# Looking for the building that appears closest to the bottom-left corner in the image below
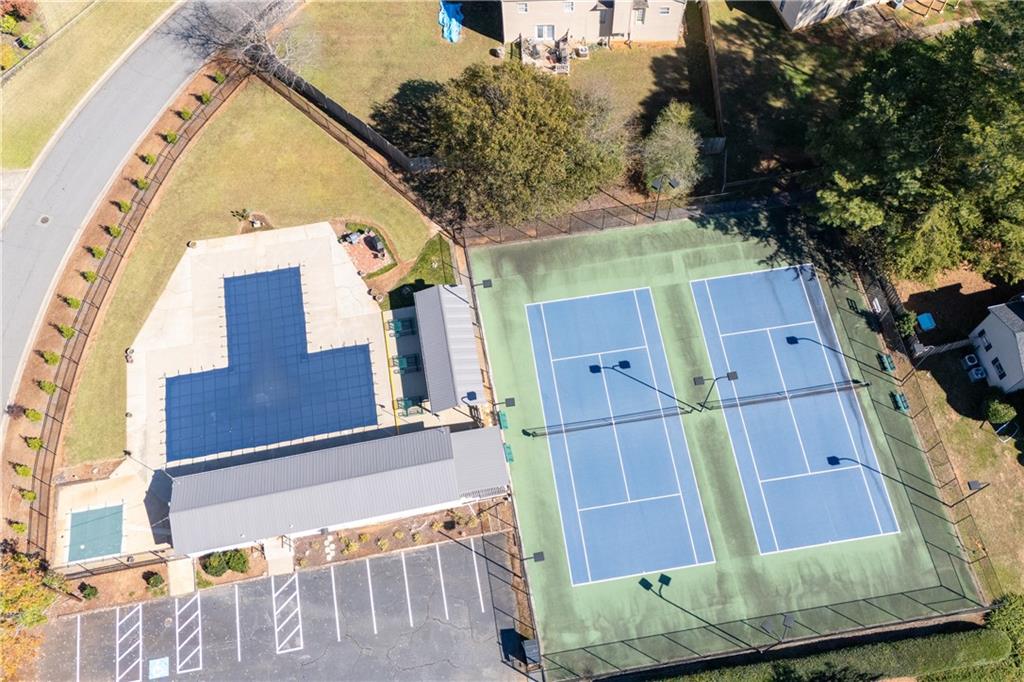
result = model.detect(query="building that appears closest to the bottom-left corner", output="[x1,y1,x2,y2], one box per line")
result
[170,425,463,556]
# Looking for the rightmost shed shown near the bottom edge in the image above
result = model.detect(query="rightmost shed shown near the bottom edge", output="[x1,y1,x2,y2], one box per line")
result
[518,638,545,673]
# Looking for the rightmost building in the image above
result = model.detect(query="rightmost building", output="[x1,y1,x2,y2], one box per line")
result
[970,299,1024,394]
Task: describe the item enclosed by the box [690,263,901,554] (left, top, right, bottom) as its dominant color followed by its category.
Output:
blue tennis court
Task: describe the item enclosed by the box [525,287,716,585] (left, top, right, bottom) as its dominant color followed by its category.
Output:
blue tennis court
